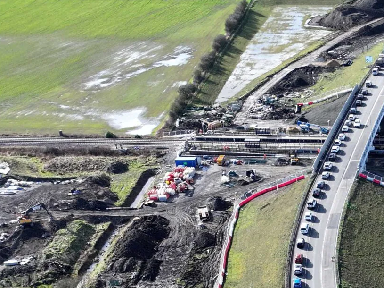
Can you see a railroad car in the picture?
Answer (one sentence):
No, I can't see a single railroad car in this photo.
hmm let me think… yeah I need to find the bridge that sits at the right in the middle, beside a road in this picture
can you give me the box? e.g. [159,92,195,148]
[303,78,384,203]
